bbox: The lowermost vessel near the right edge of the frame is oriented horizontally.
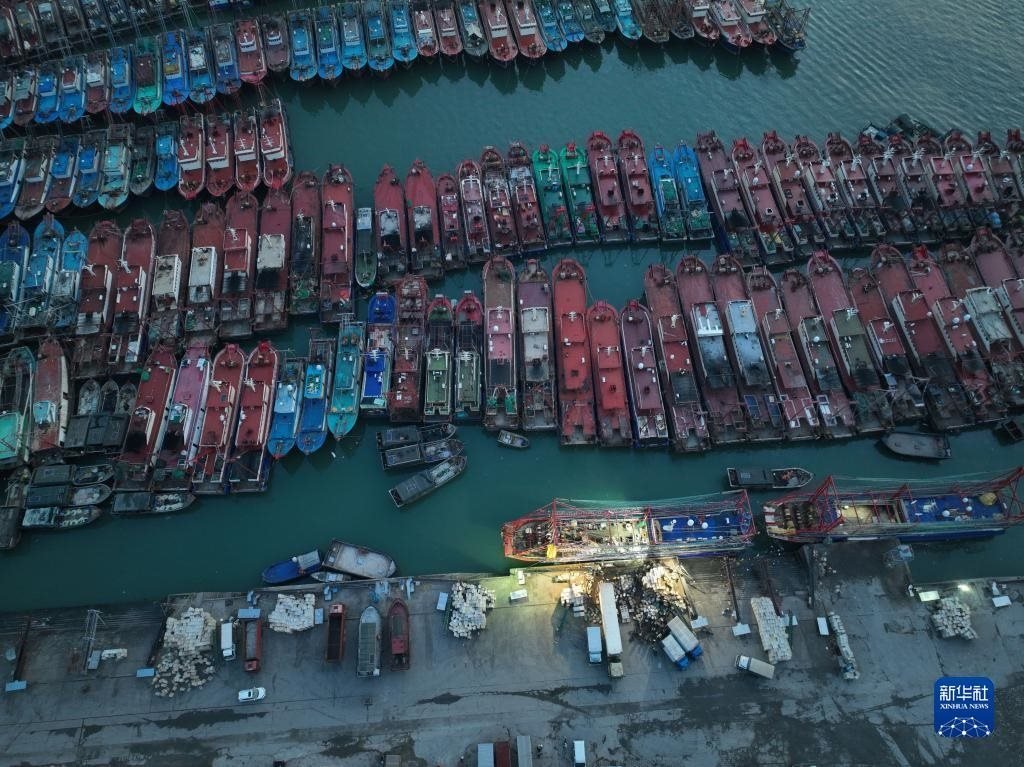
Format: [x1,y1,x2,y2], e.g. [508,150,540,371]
[764,459,1024,547]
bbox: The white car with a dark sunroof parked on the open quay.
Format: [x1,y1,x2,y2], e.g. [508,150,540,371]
[237,685,268,702]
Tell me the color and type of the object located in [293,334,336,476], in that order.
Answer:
blue boat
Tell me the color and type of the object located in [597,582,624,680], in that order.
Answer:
white truck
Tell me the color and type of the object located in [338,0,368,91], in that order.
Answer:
blue boat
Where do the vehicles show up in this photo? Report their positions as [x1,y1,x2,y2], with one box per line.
[732,651,777,679]
[382,752,401,767]
[659,628,690,672]
[515,734,533,767]
[237,685,268,702]
[325,604,347,662]
[477,741,495,767]
[240,619,265,674]
[597,582,624,680]
[586,626,603,667]
[219,618,241,664]
[667,613,703,662]
[571,740,587,767]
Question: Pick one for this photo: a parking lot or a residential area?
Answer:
parking lot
